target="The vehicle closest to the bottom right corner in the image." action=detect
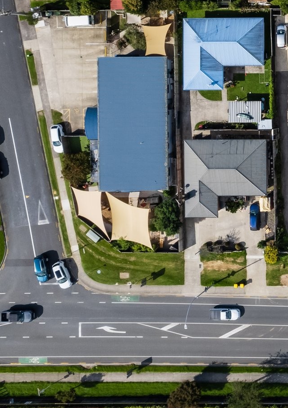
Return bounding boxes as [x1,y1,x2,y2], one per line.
[210,307,242,321]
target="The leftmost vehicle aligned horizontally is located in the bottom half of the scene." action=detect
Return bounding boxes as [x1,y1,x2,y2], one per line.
[1,309,35,324]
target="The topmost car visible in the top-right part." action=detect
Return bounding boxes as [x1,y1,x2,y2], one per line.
[274,24,288,48]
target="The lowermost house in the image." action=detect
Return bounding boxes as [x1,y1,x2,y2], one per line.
[184,139,269,218]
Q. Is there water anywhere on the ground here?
No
